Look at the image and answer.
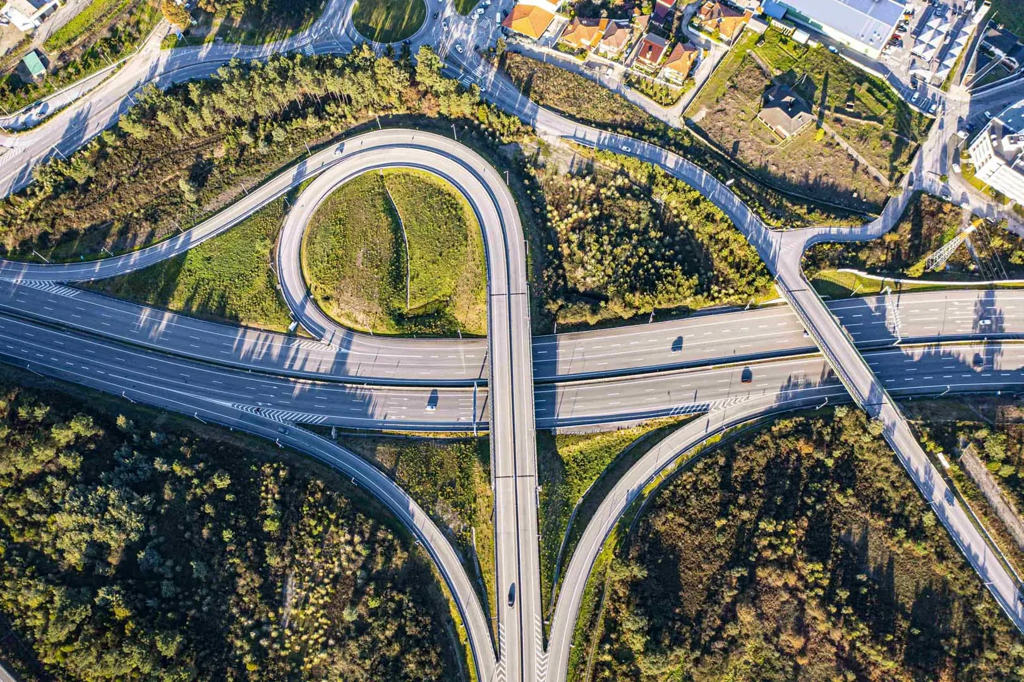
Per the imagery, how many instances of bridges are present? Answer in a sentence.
The picture shows 2 bridges.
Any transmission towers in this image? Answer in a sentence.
Yes, the frame does contain a transmission tower.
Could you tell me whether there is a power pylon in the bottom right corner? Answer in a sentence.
No, the scene shows no power pylon in the bottom right corner.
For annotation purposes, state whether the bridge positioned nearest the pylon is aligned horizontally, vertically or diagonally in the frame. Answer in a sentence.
Seen from above, the bridge positioned nearest the pylon lies diagonally.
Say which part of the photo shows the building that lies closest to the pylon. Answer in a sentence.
The building that lies closest to the pylon appears toward the top right of the photo.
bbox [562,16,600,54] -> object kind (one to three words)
house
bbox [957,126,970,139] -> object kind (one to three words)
vehicle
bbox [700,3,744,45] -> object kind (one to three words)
house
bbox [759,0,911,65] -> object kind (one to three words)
building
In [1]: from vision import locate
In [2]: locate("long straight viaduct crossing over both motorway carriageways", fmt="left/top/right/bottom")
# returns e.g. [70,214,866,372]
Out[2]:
[488,292,538,477]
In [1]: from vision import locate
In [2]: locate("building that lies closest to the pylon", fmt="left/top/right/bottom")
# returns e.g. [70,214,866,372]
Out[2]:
[969,99,1024,211]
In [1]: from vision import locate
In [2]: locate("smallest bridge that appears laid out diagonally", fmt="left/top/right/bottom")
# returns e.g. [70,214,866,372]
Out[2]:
[777,281,904,418]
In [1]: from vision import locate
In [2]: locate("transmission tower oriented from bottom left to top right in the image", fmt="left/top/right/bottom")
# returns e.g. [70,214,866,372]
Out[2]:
[915,216,980,275]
